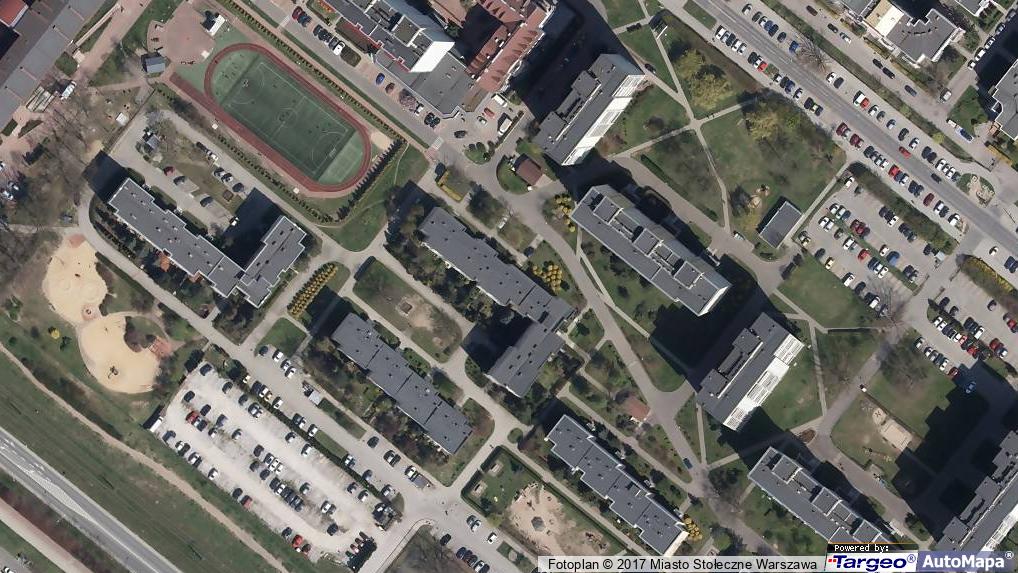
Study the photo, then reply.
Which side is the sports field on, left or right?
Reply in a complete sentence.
The sports field appears in the left half of the scene.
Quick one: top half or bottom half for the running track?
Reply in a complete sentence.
It is in the top half that the running track appears.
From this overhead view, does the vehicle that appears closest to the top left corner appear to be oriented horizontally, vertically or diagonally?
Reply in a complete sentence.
The vehicle that appears closest to the top left corner is oriented diagonally.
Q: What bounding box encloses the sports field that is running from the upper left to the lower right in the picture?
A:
[212,50,363,184]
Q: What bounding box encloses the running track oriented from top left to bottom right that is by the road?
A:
[170,42,371,192]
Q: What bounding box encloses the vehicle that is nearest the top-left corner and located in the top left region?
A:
[58,80,79,101]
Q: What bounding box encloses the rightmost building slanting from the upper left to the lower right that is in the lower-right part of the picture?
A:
[749,447,912,573]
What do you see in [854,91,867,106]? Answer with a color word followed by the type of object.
white vehicle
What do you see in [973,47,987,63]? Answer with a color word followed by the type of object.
white vehicle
